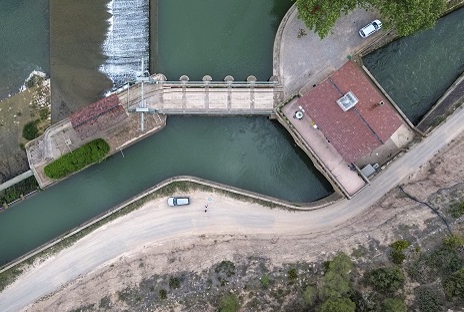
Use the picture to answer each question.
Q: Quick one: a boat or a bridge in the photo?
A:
bridge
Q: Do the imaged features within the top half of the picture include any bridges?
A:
Yes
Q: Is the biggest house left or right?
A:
right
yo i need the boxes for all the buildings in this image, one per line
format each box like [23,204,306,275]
[70,93,128,140]
[298,61,404,162]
